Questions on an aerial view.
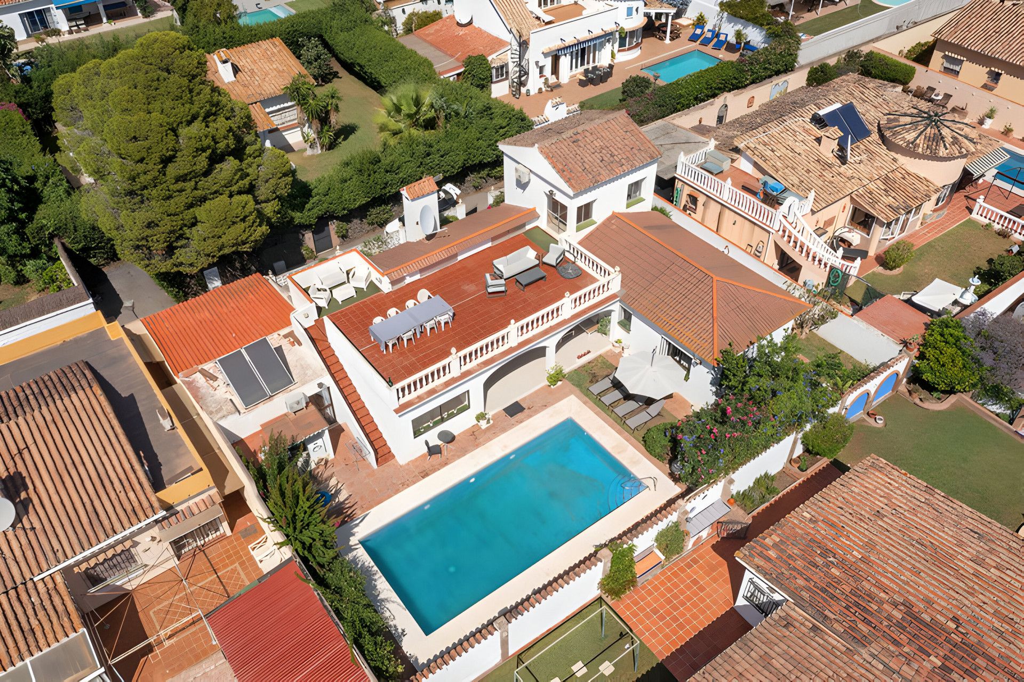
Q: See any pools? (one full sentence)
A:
Yes, I can see a pool in this picture.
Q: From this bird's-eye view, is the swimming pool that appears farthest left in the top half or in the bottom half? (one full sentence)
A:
The swimming pool that appears farthest left is in the top half of the image.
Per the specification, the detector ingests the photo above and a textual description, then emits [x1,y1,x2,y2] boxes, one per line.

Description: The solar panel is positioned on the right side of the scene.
[807,100,869,143]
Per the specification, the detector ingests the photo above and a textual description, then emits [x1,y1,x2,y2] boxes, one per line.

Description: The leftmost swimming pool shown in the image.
[232,3,299,27]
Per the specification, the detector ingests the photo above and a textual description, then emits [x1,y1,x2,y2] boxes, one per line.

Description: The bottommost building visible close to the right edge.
[695,453,1024,682]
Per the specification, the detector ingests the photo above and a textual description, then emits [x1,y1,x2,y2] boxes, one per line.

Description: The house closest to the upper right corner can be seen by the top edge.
[925,0,1024,100]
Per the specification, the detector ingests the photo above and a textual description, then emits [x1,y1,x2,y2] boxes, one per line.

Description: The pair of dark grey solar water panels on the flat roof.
[214,336,298,408]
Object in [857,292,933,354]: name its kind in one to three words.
shed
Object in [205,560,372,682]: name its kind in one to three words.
shed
